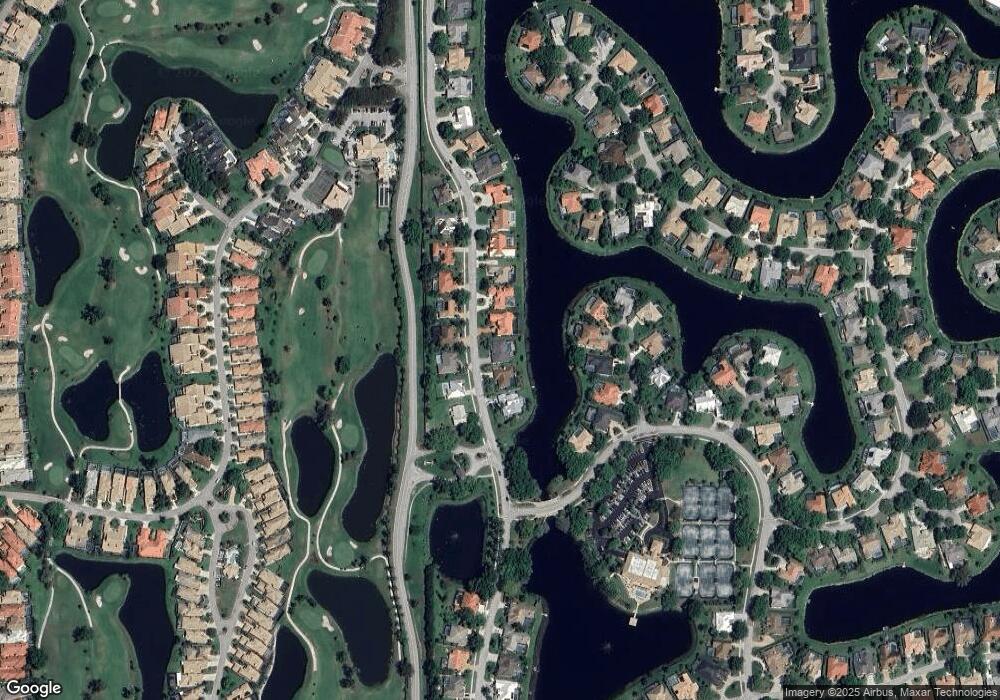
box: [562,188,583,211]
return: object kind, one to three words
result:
house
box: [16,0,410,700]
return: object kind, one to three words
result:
golf course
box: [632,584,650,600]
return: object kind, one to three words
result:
swimming pool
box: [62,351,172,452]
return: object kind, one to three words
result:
pond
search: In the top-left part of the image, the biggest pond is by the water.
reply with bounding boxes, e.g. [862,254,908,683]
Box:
[97,51,278,181]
